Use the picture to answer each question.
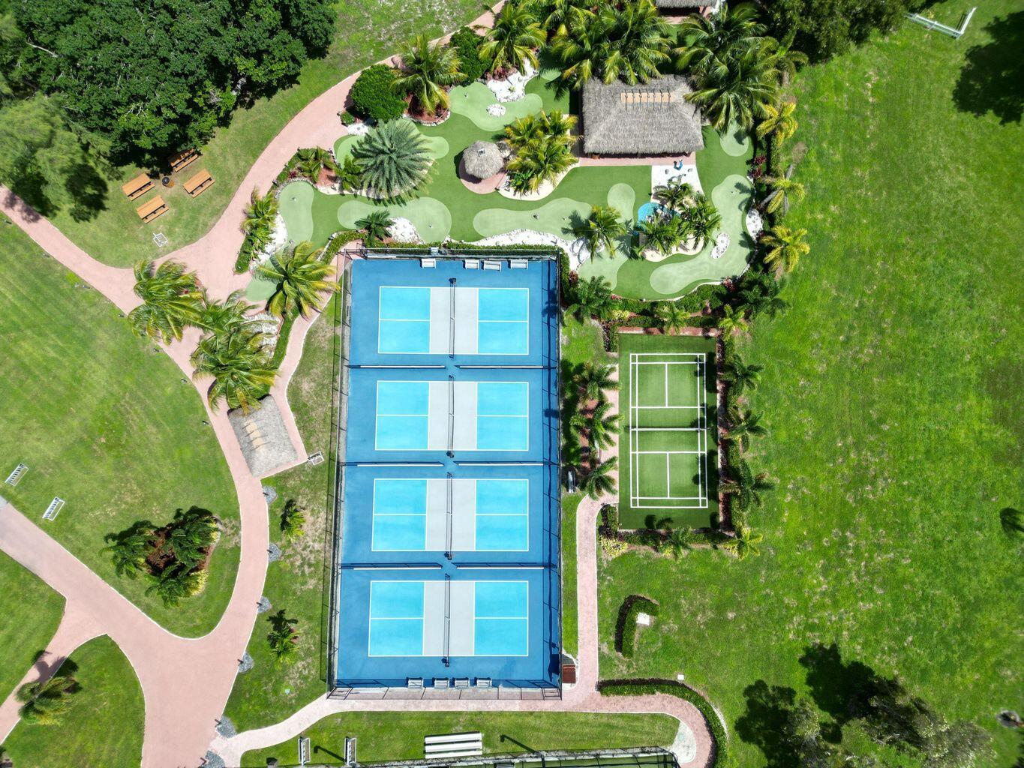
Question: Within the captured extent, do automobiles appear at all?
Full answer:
No, the photo shows no automobile.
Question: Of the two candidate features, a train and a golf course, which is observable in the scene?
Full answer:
This aerial view contains a golf course.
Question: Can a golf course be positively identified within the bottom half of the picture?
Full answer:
No, there is no golf course within the bottom half of the picture.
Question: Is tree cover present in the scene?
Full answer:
Yes, there is tree cover in the image.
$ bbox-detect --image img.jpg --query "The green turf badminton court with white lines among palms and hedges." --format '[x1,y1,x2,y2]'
[619,333,722,529]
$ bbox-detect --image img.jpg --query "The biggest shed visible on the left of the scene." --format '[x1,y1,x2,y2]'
[228,395,299,479]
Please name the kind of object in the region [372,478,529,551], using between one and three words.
sports court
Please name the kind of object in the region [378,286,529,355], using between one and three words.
sports court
